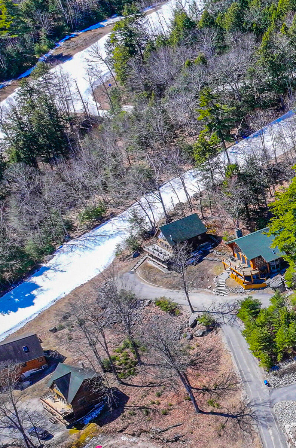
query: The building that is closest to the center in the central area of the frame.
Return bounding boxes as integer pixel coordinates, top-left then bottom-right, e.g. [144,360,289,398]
[144,213,208,271]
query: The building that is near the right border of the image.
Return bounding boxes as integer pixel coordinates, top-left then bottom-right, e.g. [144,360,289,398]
[223,225,293,288]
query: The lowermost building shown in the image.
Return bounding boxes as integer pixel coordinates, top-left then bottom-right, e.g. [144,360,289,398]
[37,362,103,426]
